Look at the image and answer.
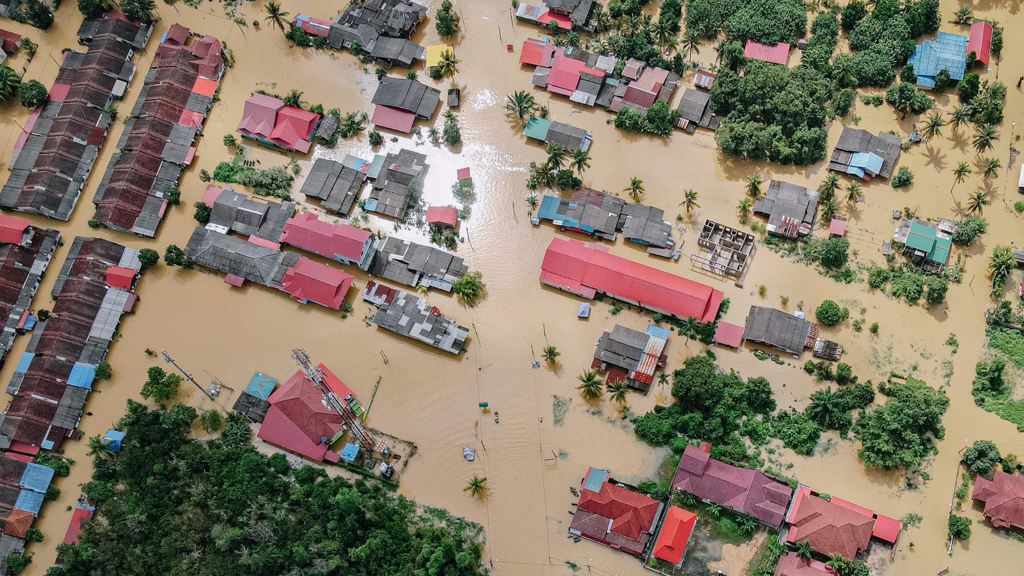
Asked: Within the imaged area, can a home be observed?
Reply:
Yes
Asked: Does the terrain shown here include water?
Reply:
Yes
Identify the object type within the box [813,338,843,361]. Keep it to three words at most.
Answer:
shed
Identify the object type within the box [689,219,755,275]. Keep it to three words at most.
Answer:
building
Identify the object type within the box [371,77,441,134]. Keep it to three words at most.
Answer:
house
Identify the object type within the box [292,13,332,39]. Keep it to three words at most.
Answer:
house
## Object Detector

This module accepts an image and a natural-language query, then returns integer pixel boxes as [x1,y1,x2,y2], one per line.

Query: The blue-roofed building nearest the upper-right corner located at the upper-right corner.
[909,32,967,89]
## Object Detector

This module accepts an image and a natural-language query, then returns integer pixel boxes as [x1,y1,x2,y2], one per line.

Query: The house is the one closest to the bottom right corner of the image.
[971,470,1024,528]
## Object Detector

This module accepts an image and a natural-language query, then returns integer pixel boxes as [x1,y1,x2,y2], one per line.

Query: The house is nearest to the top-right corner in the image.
[968,21,993,69]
